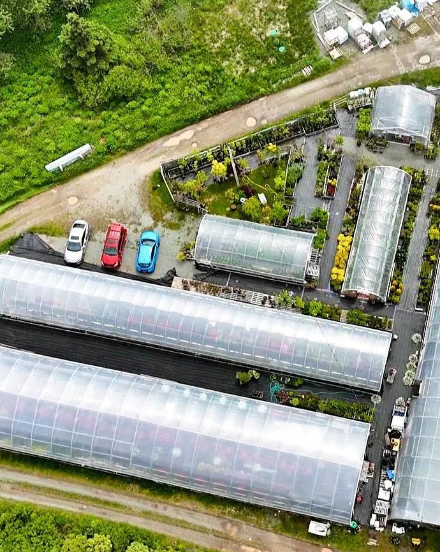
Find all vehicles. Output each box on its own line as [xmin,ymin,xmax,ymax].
[99,220,126,270]
[135,227,160,274]
[61,215,88,265]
